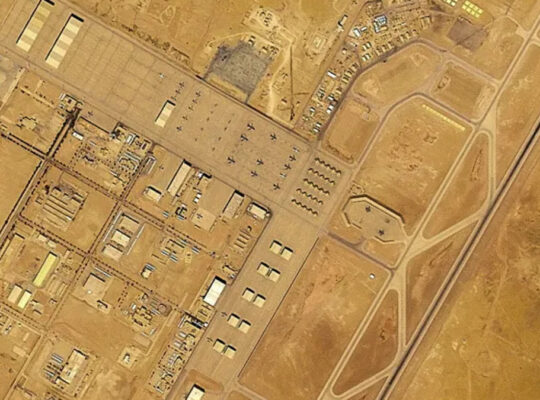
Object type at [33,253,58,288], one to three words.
building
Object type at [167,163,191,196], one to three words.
hangar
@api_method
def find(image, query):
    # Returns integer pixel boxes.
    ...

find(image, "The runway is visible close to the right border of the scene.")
[373,112,540,400]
